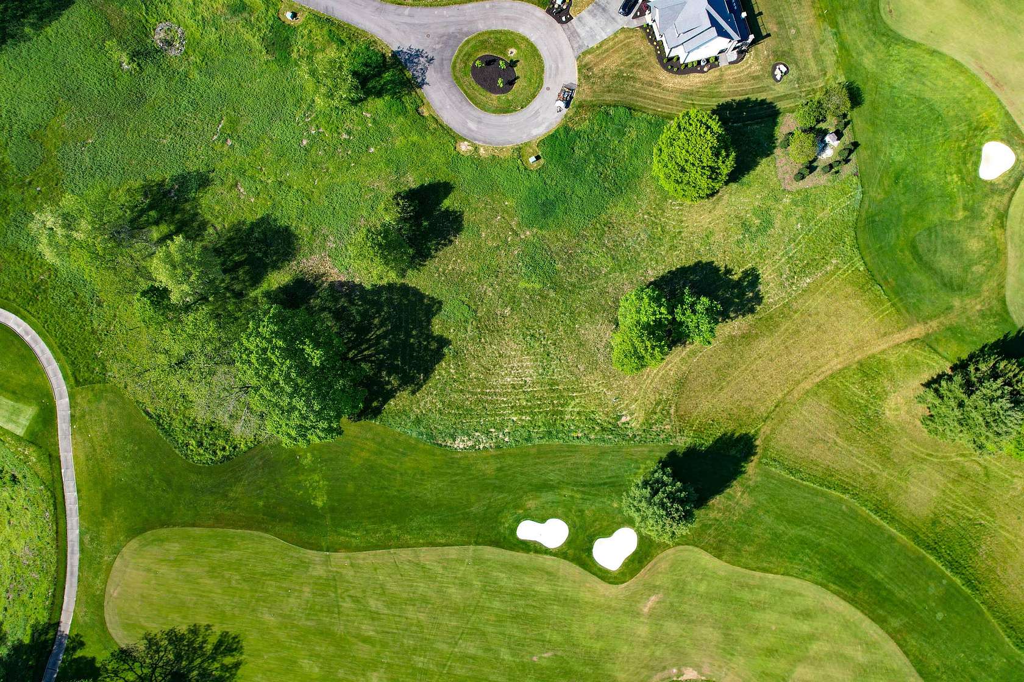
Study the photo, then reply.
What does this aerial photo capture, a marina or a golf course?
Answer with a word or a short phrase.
golf course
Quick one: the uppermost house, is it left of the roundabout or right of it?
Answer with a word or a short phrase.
right of it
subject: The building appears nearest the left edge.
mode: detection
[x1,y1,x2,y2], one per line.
[641,0,758,63]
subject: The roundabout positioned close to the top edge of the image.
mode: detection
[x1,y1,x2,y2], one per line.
[410,0,576,145]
